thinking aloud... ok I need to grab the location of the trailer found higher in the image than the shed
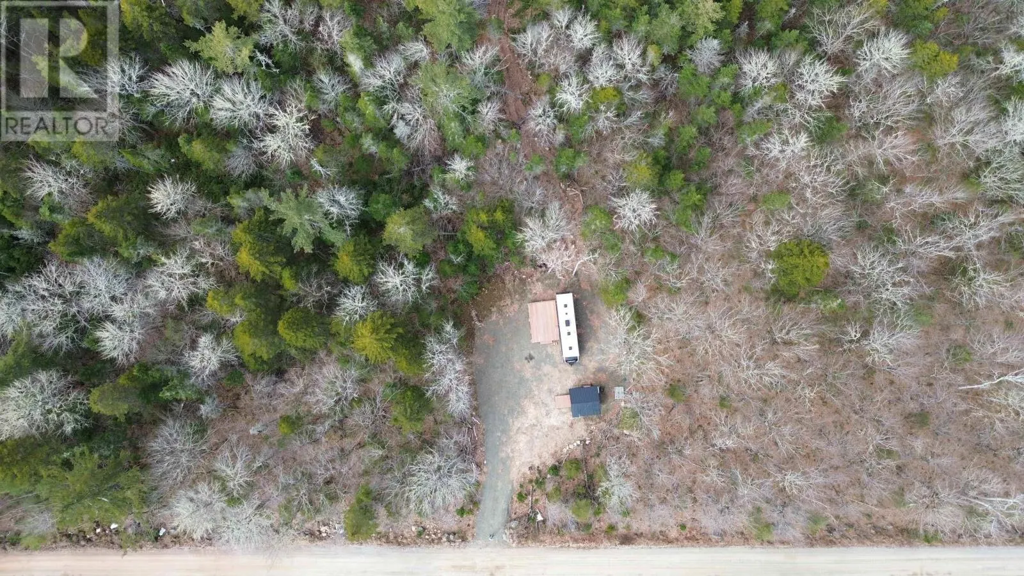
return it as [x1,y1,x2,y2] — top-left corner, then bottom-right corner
[555,290,579,369]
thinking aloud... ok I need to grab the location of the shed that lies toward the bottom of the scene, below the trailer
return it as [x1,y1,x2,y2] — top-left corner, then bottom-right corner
[569,386,601,417]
